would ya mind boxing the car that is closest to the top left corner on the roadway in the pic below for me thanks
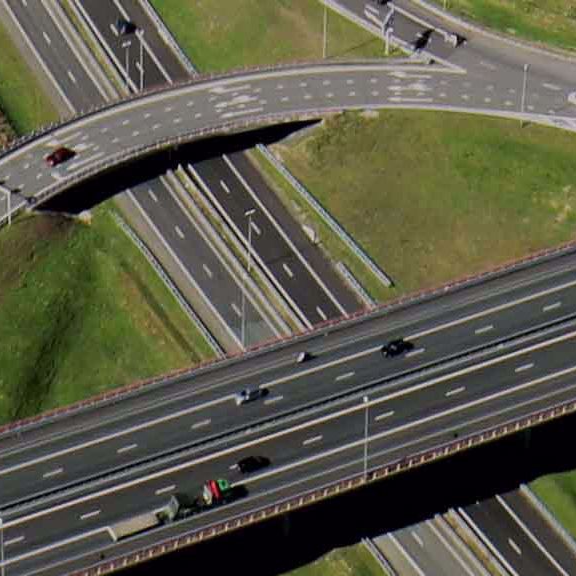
[113,20,131,36]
